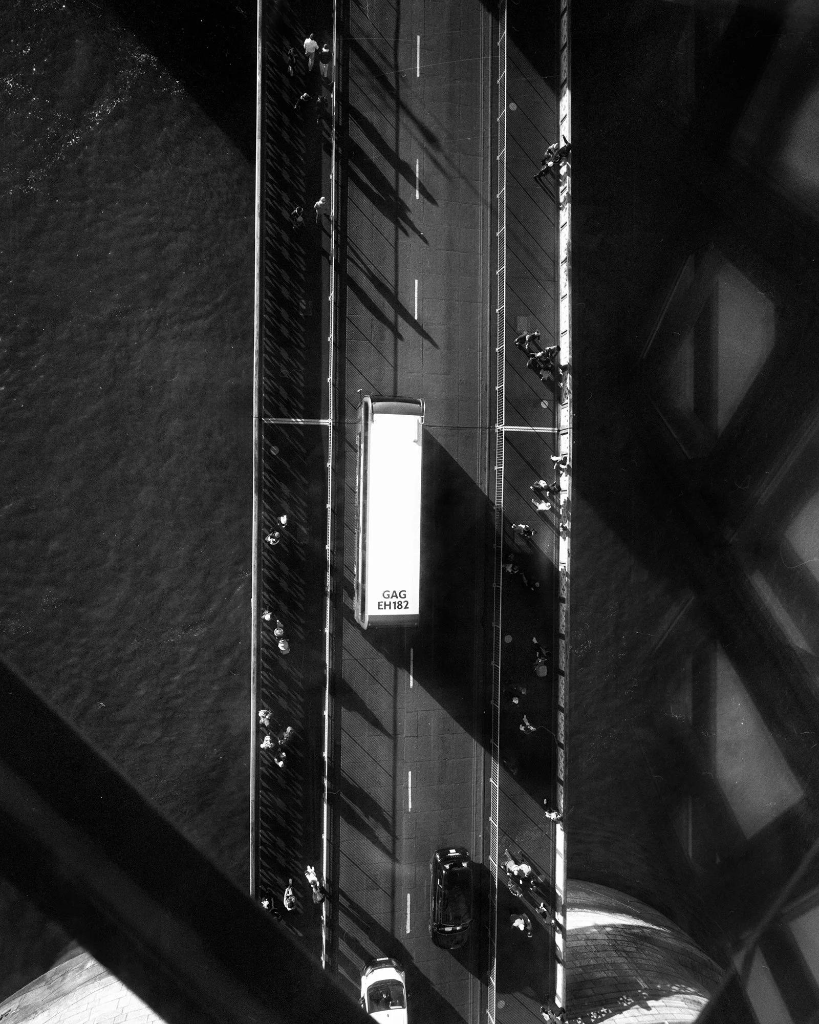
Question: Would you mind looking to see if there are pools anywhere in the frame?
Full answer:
No, I can't see a single pool in this photo.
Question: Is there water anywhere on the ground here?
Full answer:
Yes, some water is visible.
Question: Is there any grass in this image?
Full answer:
No, there is no grass in the image.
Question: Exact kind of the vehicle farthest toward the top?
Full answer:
It looks like the vehicle farthest toward the top is a bus.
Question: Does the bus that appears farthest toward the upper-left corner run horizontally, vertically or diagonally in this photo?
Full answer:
From this overhead view, the bus that appears farthest toward the upper-left corner appears to run vertically.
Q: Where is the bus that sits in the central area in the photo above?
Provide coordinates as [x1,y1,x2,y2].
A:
[353,392,429,631]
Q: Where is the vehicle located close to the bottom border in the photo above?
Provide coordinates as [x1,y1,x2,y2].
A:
[359,955,411,1024]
